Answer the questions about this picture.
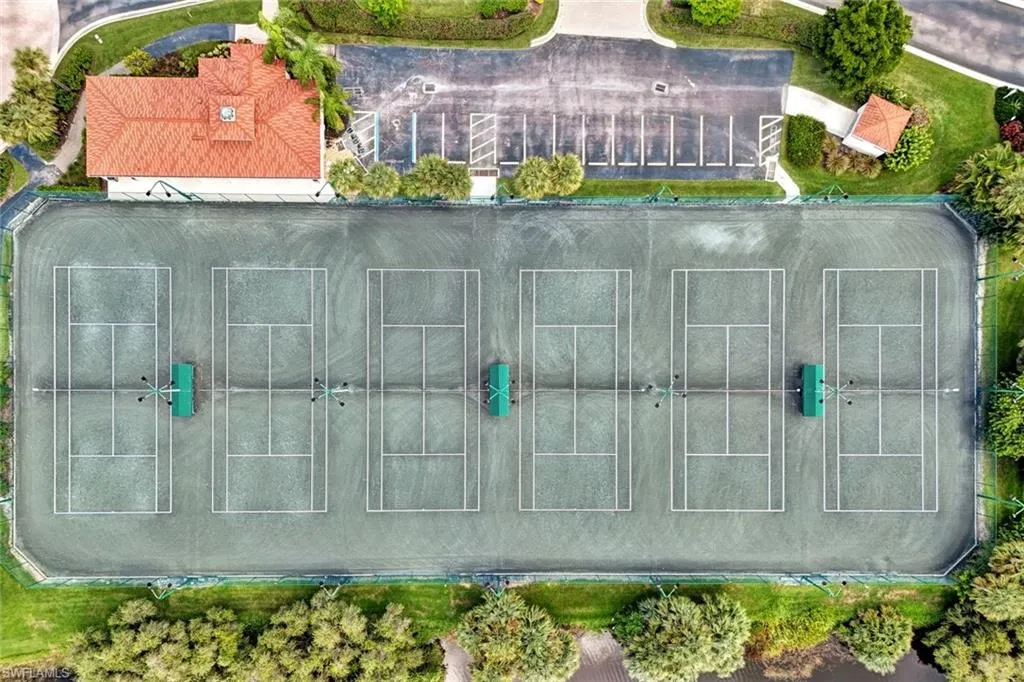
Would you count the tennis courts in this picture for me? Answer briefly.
6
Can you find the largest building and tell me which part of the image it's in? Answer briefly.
top left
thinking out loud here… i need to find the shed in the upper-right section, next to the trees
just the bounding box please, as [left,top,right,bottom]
[843,93,914,158]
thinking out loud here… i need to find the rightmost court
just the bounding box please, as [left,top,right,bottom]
[824,269,957,513]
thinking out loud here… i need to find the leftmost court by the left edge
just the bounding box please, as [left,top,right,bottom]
[29,266,172,514]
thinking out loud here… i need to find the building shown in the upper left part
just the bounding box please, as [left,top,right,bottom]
[85,42,327,185]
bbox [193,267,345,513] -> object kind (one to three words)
tennis court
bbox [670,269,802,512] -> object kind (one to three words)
tennis court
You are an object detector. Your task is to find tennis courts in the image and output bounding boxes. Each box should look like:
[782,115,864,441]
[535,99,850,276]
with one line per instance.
[670,269,802,512]
[824,269,957,513]
[509,269,649,512]
[29,266,172,514]
[348,269,489,512]
[193,267,345,513]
